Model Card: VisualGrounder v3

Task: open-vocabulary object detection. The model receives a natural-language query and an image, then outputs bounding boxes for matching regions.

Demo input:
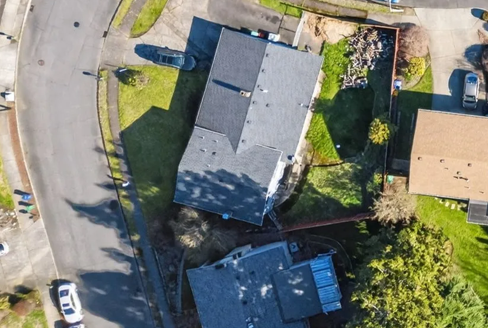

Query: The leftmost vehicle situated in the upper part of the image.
[156,47,199,69]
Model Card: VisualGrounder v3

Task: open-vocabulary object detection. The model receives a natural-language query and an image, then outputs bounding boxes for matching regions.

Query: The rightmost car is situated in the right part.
[461,70,480,111]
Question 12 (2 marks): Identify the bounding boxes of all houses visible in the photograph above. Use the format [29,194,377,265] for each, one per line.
[186,232,322,328]
[173,23,326,228]
[409,108,488,225]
